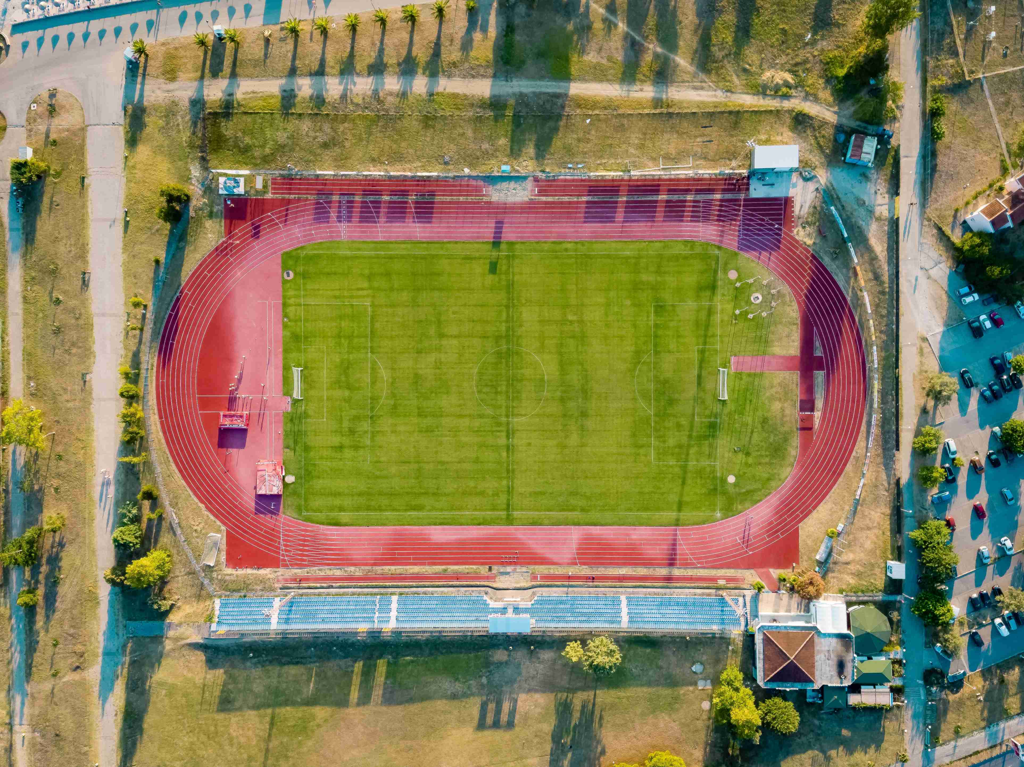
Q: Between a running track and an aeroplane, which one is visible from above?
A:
running track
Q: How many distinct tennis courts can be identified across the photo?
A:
0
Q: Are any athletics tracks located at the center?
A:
Yes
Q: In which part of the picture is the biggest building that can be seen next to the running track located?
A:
bottom right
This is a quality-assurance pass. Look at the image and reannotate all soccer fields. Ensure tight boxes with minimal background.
[282,241,799,525]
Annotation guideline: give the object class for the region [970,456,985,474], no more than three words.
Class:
car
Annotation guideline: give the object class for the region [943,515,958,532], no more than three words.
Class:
car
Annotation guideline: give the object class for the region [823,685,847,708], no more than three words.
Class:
gazebo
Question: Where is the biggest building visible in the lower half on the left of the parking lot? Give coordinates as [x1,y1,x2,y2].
[751,619,854,688]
